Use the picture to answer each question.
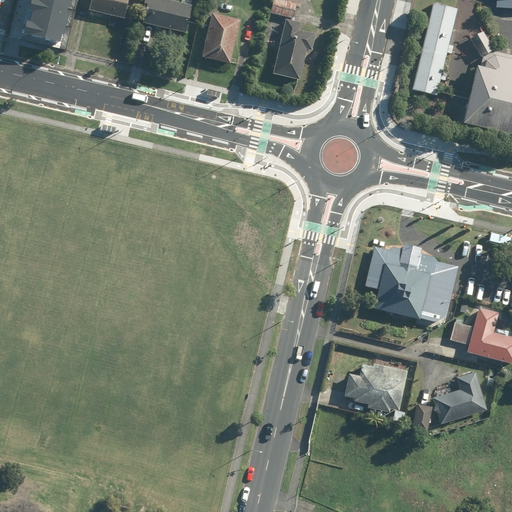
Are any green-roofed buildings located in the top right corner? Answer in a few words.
No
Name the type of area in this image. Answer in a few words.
sports ground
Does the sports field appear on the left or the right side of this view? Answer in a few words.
left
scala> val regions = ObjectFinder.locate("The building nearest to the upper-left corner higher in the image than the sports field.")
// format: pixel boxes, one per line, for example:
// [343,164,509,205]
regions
[22,0,80,48]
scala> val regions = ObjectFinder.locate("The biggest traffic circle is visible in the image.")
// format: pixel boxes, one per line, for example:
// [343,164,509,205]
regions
[320,136,360,176]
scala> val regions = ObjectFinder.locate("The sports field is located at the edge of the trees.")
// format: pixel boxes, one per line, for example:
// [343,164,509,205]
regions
[0,118,291,512]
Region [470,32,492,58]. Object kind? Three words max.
shed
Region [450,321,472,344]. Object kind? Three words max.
building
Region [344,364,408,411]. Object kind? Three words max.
house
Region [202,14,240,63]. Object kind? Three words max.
house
